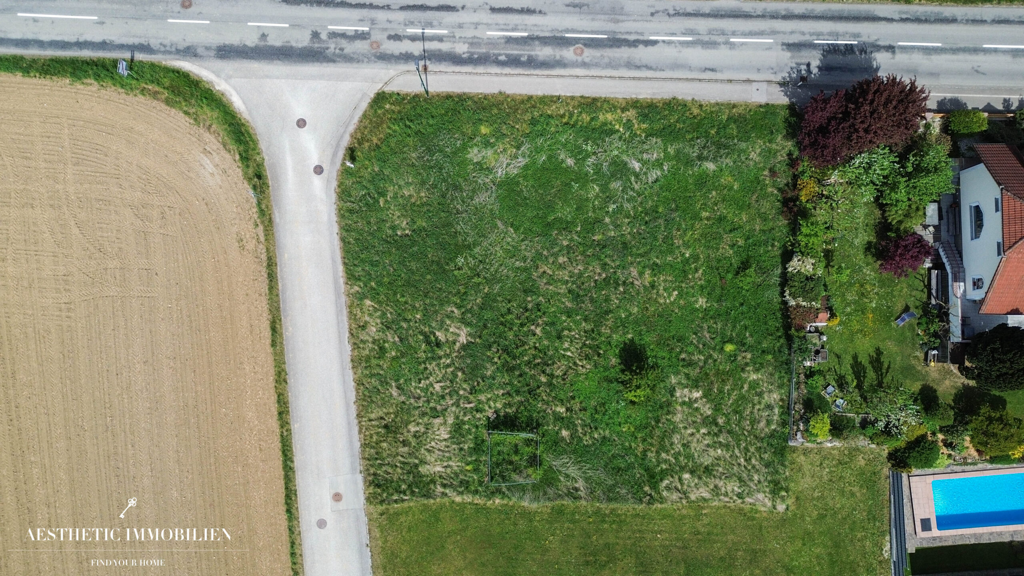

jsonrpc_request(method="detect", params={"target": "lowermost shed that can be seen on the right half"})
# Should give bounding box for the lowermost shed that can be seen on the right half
[808,296,830,325]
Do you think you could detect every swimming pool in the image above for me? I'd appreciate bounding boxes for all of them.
[908,463,1024,541]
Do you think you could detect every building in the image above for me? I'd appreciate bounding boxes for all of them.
[808,296,830,325]
[957,139,1024,316]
